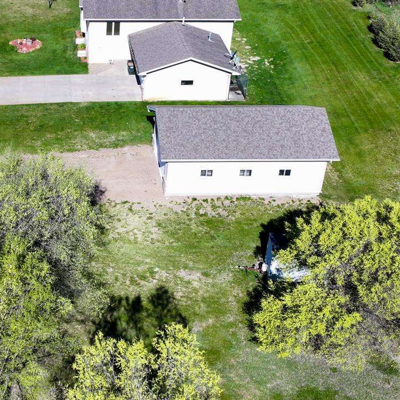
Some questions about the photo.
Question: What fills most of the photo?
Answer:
grass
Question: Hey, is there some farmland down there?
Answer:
No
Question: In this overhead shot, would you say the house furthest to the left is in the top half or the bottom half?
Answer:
top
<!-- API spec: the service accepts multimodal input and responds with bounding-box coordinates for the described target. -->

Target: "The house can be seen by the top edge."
[78,0,241,99]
